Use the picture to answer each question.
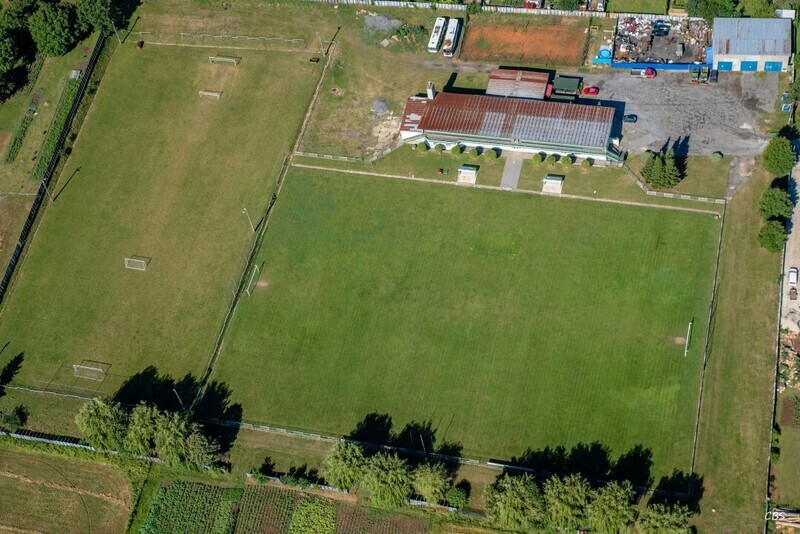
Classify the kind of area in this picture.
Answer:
sports ground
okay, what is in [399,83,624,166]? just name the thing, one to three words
building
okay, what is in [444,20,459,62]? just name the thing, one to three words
vehicle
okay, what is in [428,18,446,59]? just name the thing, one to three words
vehicle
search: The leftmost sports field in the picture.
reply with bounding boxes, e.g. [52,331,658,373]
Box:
[0,41,317,410]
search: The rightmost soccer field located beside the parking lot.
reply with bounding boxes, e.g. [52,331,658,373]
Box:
[192,152,722,493]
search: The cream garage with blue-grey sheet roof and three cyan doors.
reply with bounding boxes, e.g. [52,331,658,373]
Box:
[713,18,791,72]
